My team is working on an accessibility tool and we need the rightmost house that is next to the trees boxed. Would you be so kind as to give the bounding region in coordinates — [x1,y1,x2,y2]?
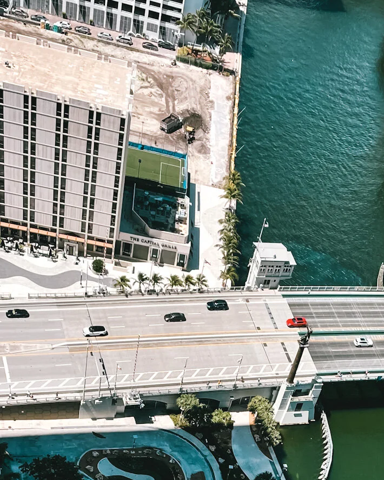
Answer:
[248,210,296,290]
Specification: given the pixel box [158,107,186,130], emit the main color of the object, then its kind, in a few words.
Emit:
gray truck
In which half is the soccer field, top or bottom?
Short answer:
top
